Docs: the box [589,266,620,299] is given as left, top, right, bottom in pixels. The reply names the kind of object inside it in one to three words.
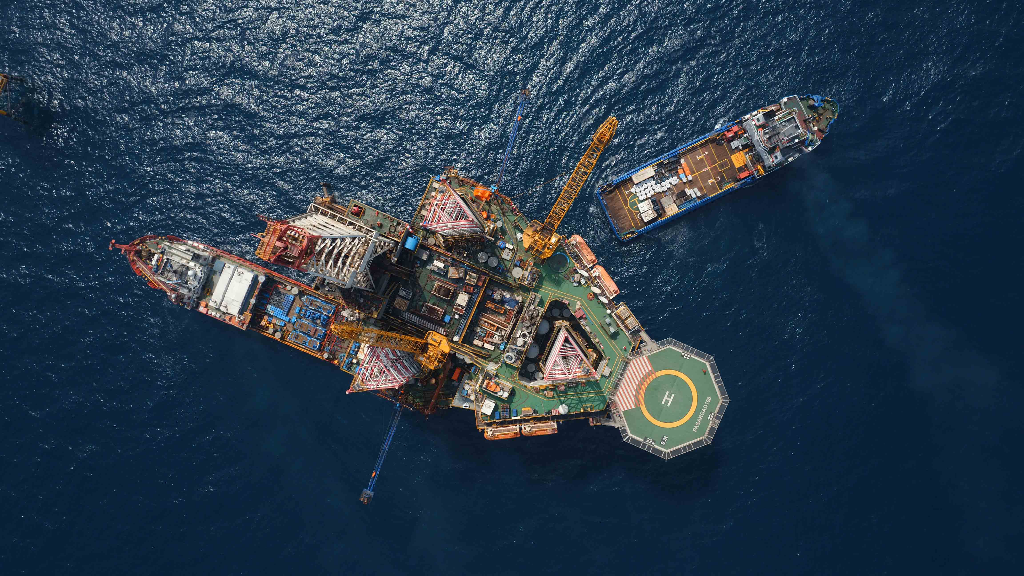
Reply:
boat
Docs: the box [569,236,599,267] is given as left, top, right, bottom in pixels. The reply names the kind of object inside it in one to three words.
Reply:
boat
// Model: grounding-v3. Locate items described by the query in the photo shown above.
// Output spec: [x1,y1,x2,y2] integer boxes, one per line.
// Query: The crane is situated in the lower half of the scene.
[311,321,452,377]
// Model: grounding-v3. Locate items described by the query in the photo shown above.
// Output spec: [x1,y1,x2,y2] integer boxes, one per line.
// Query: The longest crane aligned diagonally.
[522,115,618,263]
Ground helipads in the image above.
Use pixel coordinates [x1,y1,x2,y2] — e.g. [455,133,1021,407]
[601,331,731,460]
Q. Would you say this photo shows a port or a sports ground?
port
